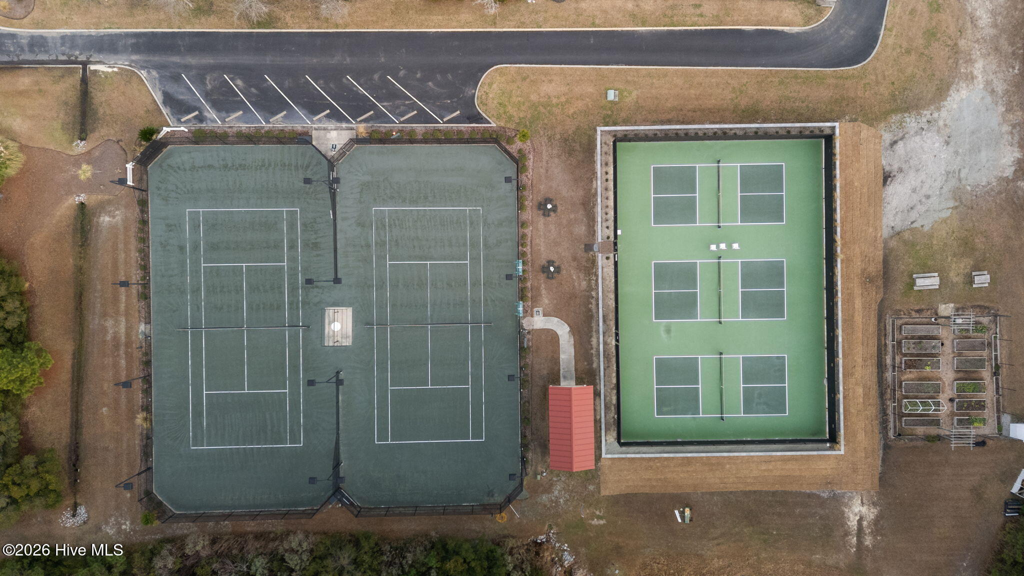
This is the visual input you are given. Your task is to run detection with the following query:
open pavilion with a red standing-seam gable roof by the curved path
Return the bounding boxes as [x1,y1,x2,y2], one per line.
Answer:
[548,382,594,472]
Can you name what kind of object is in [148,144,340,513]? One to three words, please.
tennis court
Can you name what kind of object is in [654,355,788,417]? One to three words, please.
sports court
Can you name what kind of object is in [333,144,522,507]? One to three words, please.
tennis court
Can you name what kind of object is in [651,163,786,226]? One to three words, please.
sports court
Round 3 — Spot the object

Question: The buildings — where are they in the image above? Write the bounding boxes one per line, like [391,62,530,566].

[1005,414,1024,437]
[548,382,594,472]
